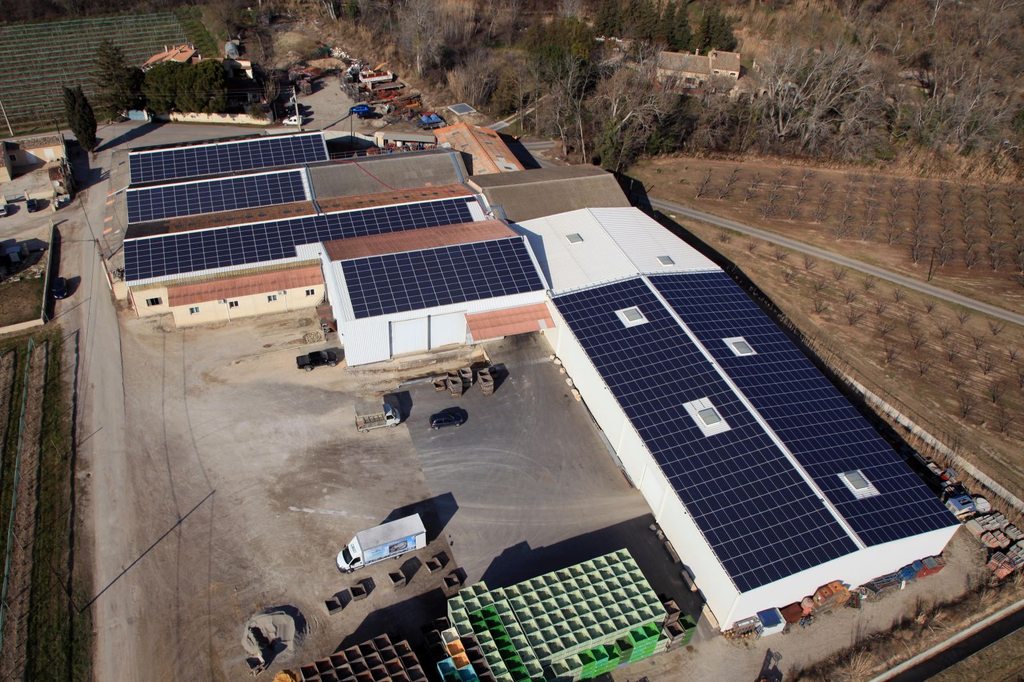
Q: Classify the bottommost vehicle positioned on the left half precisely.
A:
truck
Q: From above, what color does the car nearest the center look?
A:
black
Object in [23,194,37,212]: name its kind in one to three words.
car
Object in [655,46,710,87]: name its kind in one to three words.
house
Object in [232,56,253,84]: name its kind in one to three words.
house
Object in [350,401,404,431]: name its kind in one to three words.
truck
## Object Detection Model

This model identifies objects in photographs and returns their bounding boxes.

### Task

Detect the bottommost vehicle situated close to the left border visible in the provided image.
[49,272,67,297]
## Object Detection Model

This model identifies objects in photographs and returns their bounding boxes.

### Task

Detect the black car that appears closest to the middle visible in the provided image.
[428,409,462,429]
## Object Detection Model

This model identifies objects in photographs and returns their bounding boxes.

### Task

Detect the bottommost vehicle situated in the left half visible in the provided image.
[333,513,421,573]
